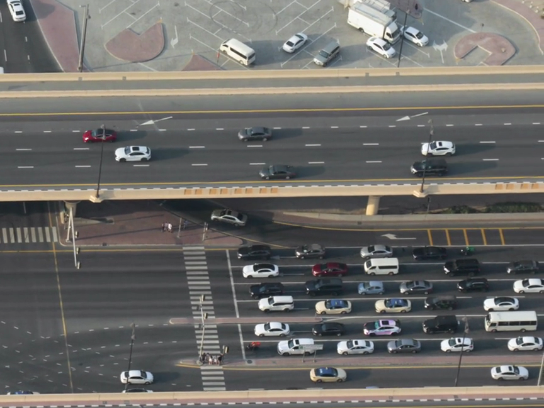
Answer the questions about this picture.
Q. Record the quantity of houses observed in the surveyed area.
zero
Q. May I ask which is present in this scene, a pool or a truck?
truck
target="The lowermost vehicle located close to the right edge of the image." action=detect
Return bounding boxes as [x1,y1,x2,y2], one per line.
[491,366,529,382]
